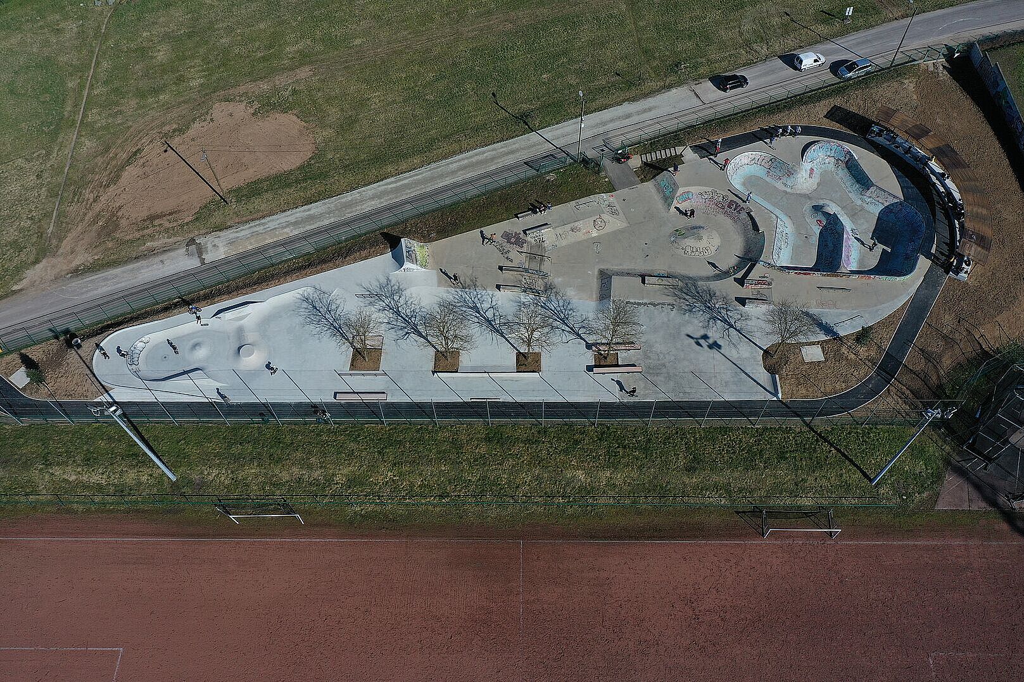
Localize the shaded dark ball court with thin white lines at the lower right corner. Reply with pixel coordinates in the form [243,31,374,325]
[937,382,1024,510]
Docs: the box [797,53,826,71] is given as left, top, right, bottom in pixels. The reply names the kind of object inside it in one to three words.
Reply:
vehicle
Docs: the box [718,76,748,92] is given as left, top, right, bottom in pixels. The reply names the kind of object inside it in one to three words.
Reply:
car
